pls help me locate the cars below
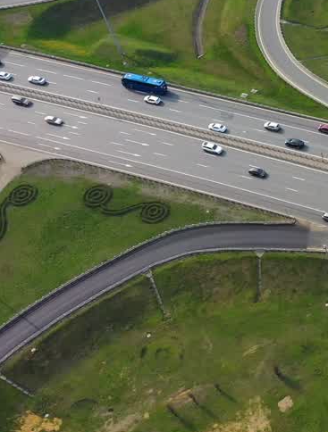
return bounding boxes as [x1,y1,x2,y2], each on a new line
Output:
[286,140,303,150]
[264,123,280,132]
[322,214,328,222]
[249,167,266,179]
[45,117,62,126]
[203,143,222,154]
[12,96,30,106]
[30,77,46,85]
[209,124,226,133]
[318,125,328,133]
[145,96,162,105]
[0,73,11,80]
